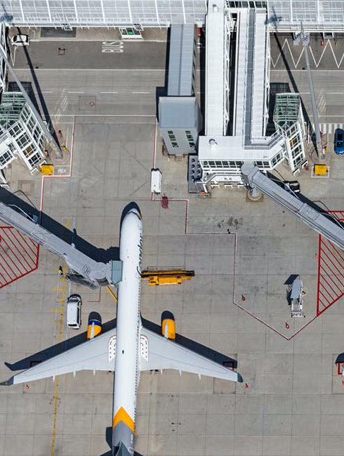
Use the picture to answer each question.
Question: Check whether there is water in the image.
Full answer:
No, there's no water in this view.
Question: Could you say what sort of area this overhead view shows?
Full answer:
What you see here is an airport.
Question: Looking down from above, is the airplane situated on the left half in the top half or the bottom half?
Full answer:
Seen from above, the airplane situated on the left half lies in the bottom half of the view.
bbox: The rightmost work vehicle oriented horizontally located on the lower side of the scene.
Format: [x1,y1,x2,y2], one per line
[139,271,195,285]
